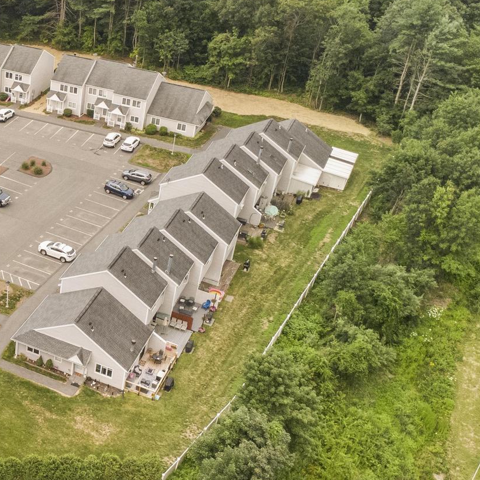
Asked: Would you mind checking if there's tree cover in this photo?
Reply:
Yes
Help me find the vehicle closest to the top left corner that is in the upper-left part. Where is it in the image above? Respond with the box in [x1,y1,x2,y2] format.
[0,107,16,122]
